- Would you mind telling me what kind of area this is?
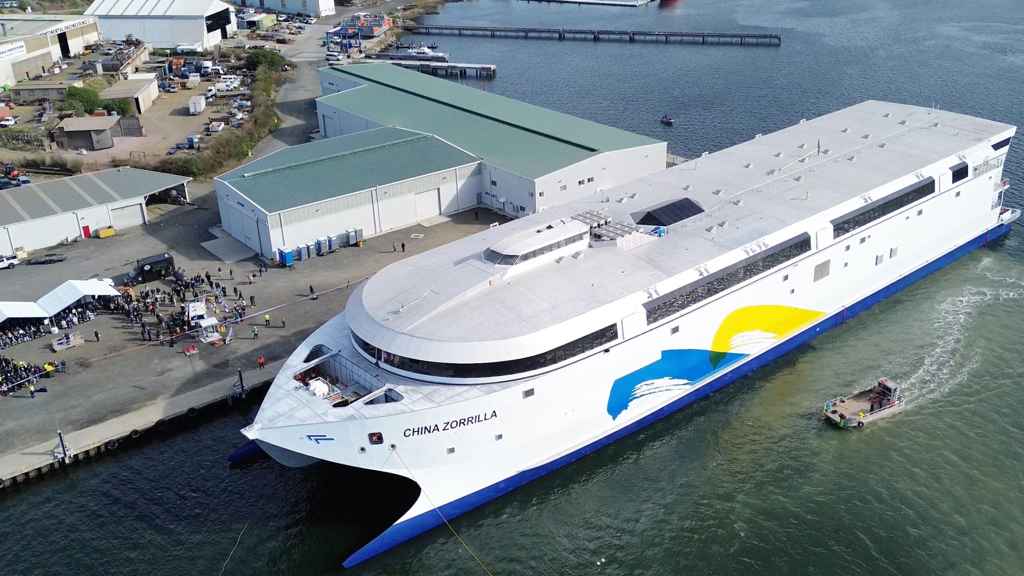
port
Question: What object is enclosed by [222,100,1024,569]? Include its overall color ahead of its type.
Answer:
white ship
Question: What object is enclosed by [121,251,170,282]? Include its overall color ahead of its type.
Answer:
black truck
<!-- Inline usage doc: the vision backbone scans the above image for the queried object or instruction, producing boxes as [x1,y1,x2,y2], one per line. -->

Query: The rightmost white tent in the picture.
[37,282,126,326]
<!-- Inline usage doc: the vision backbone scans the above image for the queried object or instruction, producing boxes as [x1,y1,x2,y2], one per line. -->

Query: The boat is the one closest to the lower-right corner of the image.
[820,372,908,428]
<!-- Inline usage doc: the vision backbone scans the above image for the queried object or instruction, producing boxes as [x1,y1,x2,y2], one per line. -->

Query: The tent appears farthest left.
[0,302,52,327]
